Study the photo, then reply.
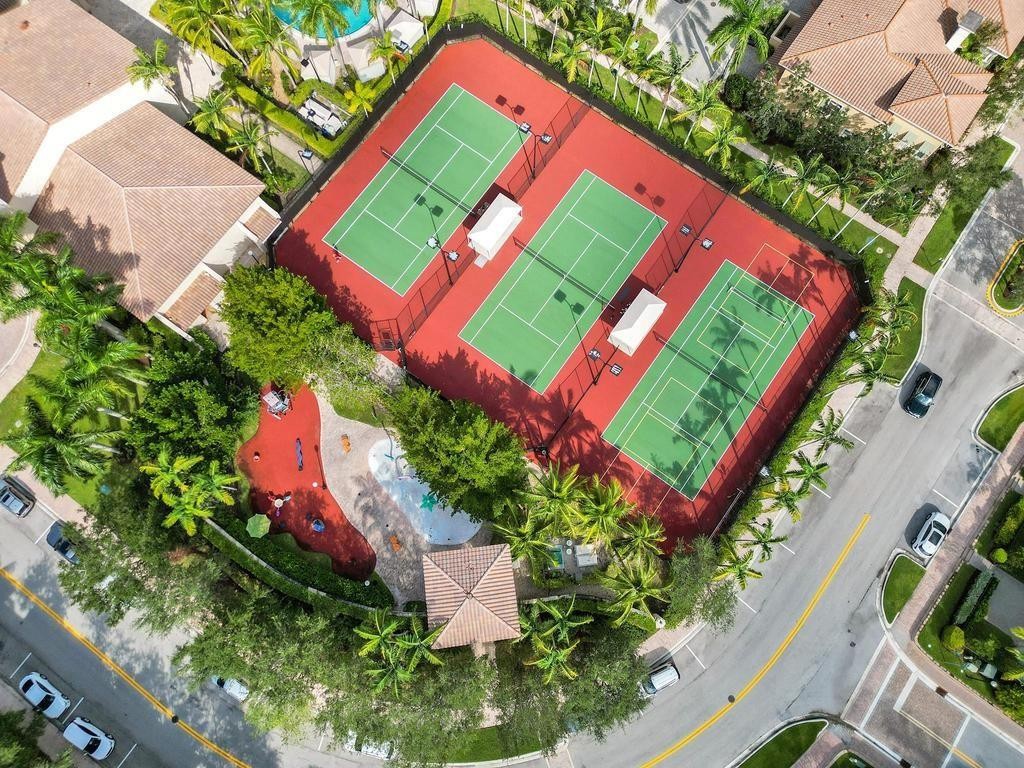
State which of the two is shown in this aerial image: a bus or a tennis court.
tennis court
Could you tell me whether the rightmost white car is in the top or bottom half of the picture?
bottom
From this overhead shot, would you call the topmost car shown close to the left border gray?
Yes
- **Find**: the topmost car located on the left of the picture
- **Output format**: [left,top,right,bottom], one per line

[0,475,38,516]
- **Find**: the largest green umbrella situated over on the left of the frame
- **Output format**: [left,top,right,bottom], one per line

[247,512,273,539]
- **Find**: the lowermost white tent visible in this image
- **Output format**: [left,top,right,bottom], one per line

[605,288,668,361]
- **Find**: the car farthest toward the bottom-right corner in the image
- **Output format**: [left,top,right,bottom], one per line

[911,513,952,561]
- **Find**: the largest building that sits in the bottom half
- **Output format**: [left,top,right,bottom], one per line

[422,543,521,648]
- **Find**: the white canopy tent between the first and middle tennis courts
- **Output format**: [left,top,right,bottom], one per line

[462,193,524,265]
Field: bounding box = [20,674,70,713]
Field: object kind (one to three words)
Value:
car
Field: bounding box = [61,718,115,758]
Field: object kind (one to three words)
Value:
car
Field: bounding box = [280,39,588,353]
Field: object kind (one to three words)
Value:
tennis court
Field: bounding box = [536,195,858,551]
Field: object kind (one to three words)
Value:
tennis court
